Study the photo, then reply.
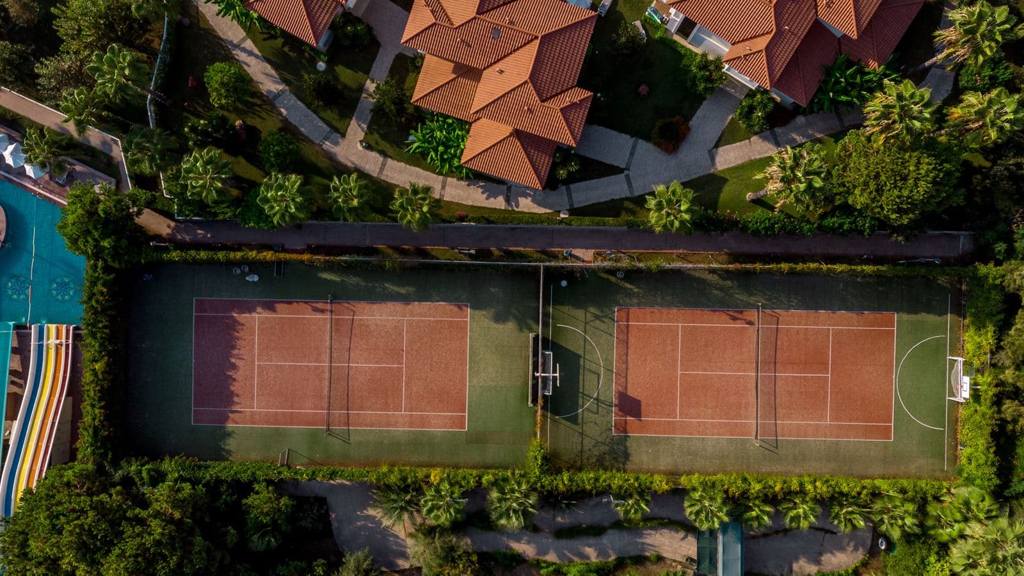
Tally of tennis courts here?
2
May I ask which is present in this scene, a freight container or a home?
home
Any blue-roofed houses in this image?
No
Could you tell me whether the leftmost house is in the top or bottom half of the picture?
top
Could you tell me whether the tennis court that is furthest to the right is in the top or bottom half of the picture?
bottom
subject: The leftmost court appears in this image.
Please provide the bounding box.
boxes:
[139,263,540,471]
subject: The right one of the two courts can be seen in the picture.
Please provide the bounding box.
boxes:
[541,269,962,480]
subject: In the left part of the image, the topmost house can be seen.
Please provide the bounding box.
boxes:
[245,0,367,60]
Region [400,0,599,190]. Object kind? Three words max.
house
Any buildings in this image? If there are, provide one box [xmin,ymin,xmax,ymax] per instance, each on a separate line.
[245,0,367,60]
[400,0,599,190]
[653,0,928,107]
